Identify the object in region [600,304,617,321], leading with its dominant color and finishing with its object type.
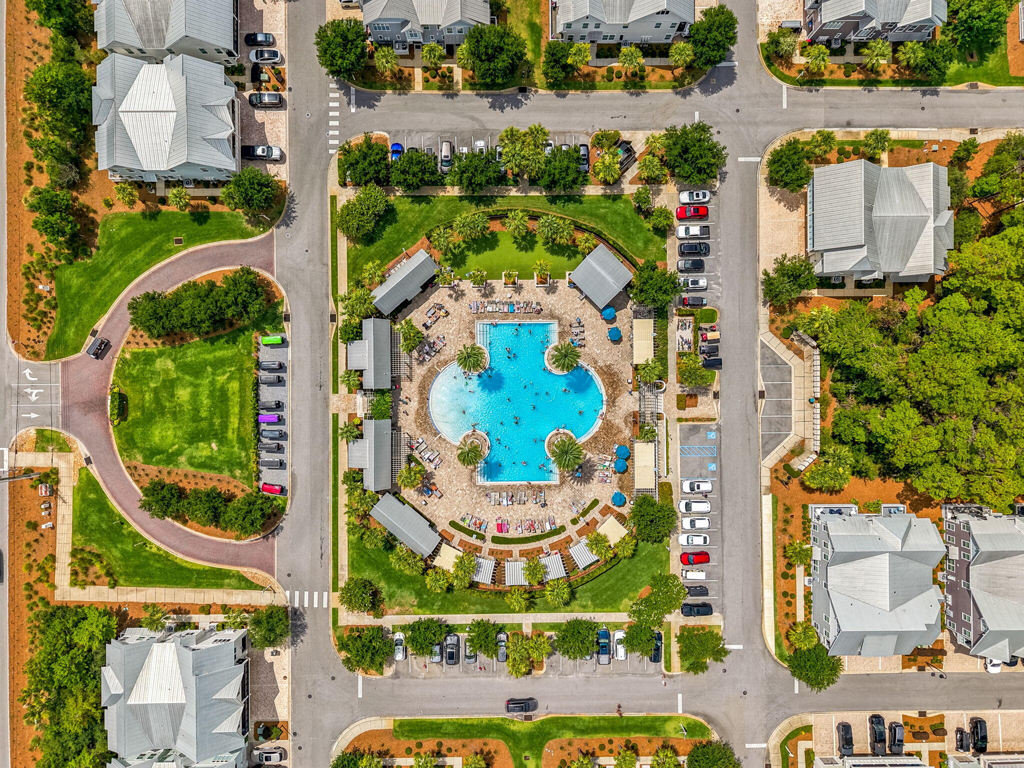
blue umbrella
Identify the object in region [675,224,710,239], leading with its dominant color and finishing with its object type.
white vehicle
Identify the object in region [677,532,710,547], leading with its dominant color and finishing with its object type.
white car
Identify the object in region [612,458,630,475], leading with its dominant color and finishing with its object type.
blue umbrella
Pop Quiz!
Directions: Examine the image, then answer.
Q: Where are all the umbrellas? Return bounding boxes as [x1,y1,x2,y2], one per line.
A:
[615,444,632,460]
[600,304,617,321]
[611,491,628,508]
[606,325,624,343]
[612,458,630,475]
